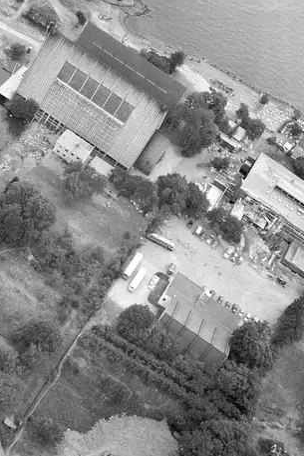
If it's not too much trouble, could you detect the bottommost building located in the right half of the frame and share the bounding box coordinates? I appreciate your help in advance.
[152,275,245,372]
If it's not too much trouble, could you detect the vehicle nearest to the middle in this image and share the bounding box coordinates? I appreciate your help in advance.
[148,232,175,251]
